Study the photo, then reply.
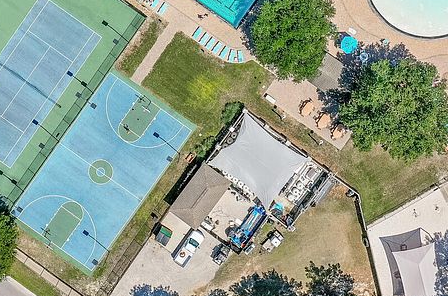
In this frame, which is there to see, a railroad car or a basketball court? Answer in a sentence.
Visible in the photo is a basketball court.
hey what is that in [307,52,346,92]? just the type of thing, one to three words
building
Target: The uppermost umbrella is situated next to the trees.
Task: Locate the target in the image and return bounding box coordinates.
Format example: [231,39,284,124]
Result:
[341,37,358,52]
